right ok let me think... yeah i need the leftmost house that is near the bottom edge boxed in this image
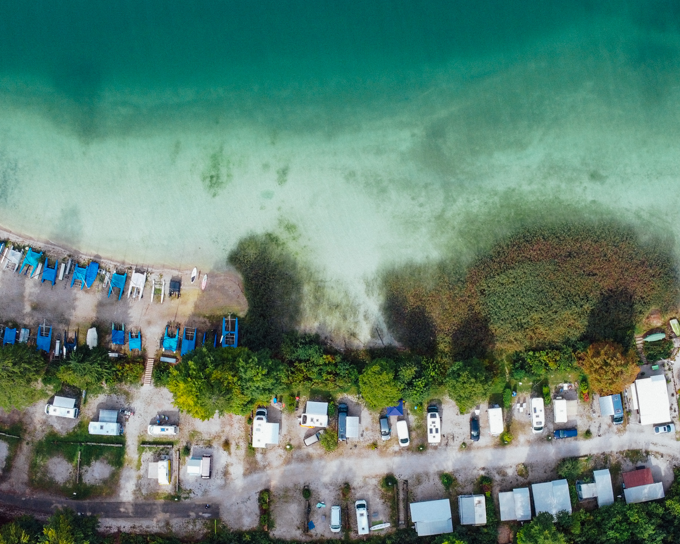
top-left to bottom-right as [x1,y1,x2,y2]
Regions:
[410,498,453,536]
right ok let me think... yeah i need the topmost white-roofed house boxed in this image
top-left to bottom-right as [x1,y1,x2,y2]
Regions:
[628,375,671,425]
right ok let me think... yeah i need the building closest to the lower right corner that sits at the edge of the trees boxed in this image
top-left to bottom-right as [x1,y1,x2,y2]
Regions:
[619,465,664,504]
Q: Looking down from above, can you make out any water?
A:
Yes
